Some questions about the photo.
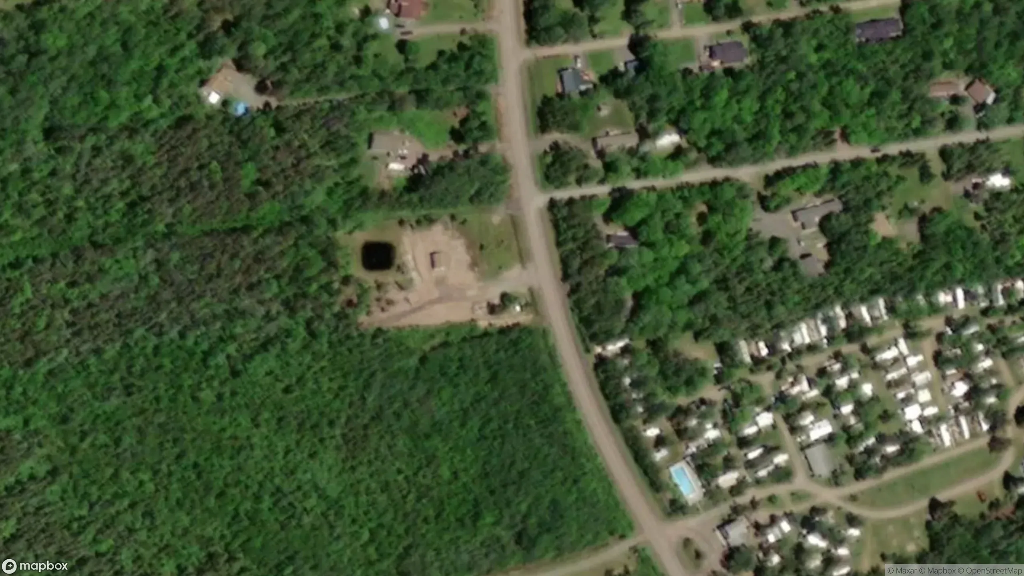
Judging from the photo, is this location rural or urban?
rural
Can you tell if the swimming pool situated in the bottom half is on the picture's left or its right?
right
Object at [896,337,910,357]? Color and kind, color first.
white camper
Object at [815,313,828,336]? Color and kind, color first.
white vehicle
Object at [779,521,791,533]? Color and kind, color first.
white vehicle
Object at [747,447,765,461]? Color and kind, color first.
white camper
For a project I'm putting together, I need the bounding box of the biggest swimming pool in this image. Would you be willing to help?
[670,461,703,504]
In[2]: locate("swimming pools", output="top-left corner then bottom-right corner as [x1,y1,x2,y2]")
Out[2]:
[670,461,703,504]
[235,102,247,114]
